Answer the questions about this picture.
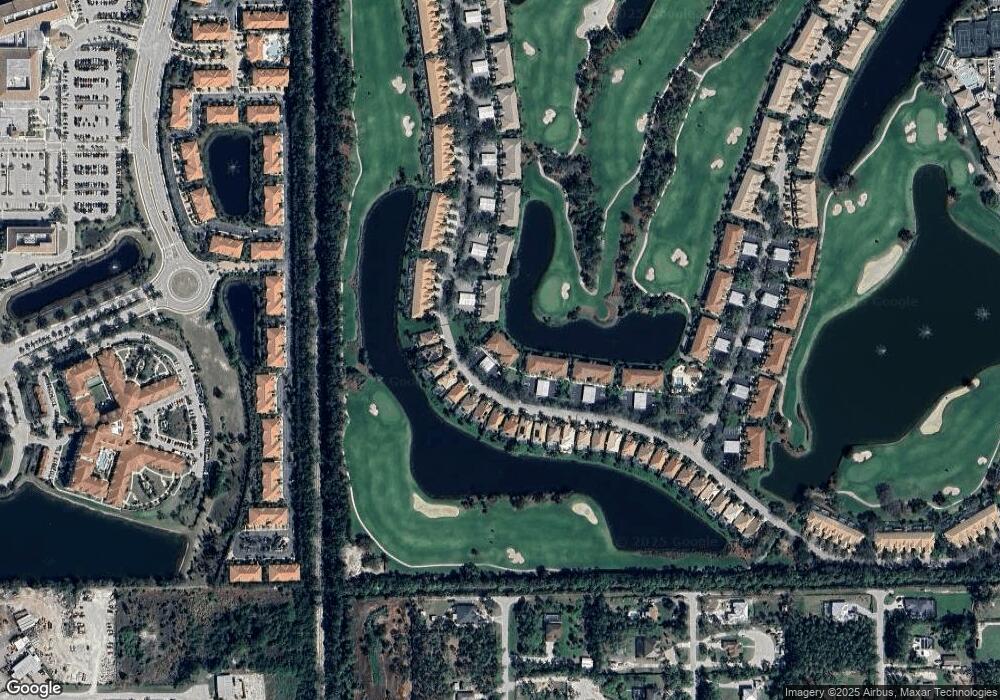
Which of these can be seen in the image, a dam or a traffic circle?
traffic circle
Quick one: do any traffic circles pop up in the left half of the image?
Yes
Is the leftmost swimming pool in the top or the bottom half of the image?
bottom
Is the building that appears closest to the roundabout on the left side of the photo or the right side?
left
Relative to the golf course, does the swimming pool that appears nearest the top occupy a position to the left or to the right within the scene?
to the left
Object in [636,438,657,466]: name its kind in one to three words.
house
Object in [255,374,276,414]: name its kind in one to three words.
building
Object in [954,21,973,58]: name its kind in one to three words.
tennis court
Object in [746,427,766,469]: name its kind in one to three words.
building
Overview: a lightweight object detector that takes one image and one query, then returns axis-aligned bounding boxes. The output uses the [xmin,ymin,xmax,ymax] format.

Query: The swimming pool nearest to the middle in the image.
[672,366,703,391]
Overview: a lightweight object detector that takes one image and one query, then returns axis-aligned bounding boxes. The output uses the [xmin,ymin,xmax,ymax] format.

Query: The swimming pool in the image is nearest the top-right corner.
[956,62,987,90]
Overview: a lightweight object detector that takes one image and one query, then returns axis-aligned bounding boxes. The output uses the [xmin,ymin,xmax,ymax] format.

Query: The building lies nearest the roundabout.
[208,235,244,259]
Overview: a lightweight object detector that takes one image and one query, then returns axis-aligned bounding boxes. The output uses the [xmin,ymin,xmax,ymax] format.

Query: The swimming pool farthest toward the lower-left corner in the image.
[94,450,117,480]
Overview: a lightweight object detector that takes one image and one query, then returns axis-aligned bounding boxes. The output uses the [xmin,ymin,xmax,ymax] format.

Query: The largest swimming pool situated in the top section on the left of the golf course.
[263,31,289,62]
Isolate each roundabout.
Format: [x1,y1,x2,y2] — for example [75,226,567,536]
[156,257,214,311]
